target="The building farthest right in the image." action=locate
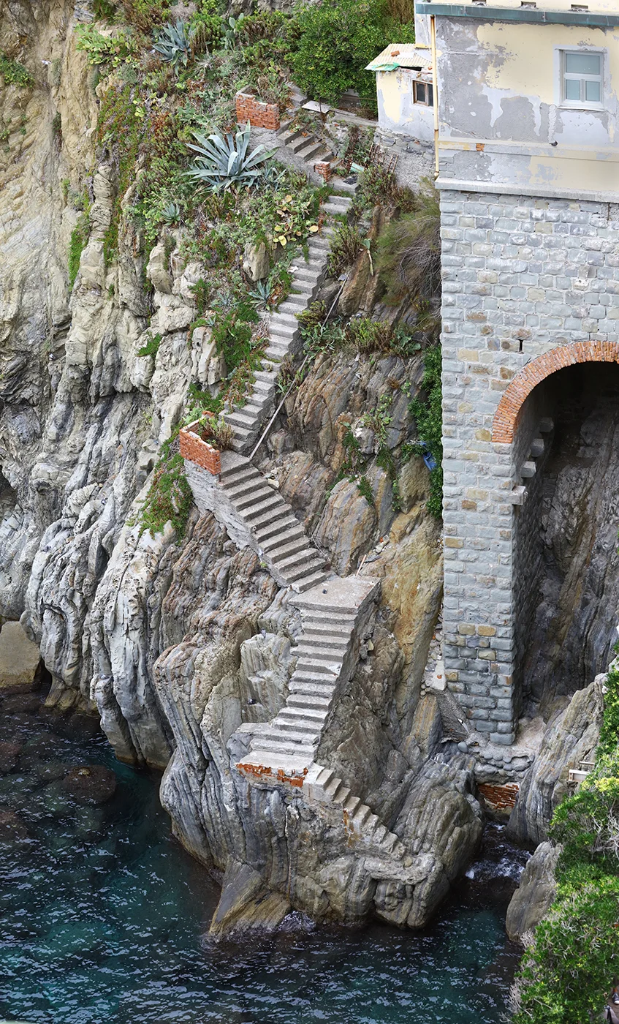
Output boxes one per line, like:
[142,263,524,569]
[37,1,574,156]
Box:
[411,0,619,764]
